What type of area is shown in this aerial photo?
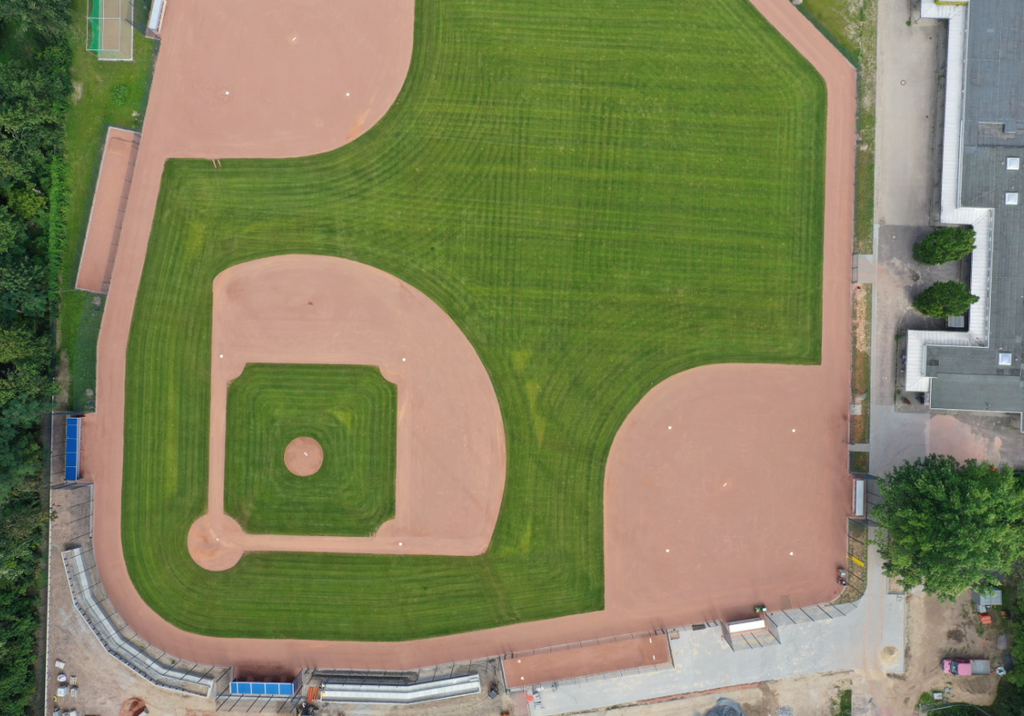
sports ground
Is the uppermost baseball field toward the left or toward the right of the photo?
left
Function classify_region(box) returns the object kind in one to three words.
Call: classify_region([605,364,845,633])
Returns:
baseball field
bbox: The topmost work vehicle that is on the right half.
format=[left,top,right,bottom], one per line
[838,571,850,588]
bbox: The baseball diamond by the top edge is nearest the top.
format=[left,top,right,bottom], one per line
[145,0,413,157]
